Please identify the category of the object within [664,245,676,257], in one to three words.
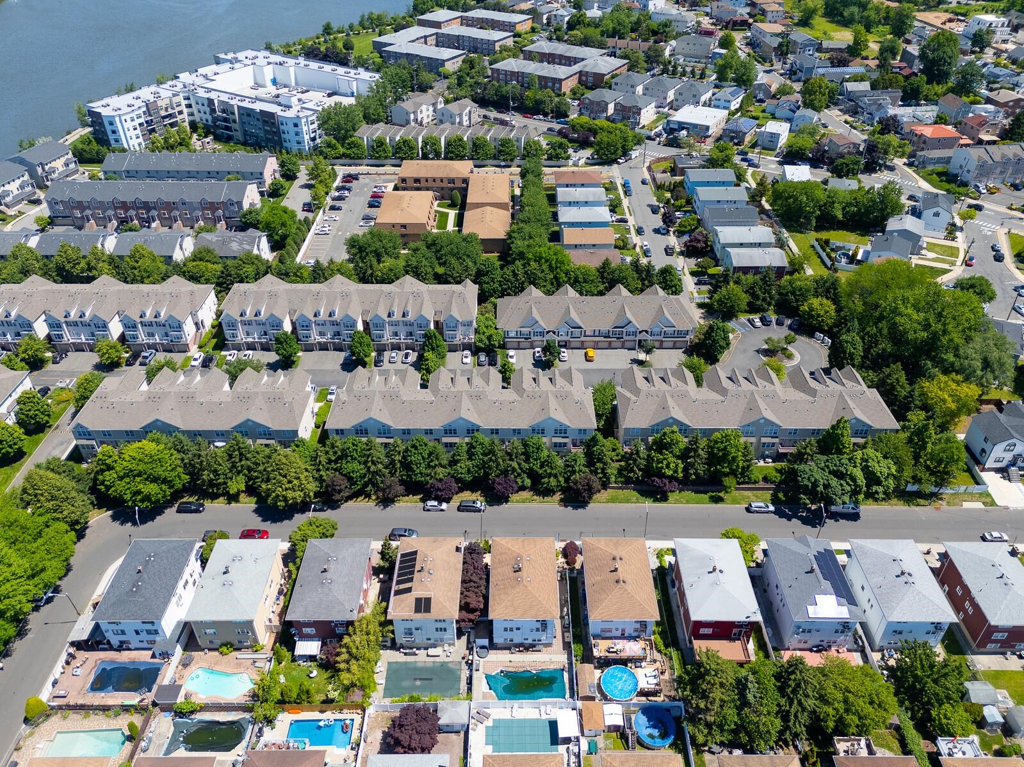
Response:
vehicle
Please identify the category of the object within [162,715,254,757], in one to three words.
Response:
swimming pool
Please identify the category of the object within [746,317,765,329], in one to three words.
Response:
vehicle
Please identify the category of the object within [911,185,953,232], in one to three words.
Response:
house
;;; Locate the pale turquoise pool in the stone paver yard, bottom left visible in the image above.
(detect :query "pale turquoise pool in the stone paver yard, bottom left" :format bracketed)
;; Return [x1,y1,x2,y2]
[37,726,129,762]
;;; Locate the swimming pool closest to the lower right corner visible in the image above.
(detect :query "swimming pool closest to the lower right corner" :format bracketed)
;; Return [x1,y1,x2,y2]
[630,705,681,753]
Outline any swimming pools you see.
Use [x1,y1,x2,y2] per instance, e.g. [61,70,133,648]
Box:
[37,726,129,762]
[162,715,254,757]
[482,668,571,699]
[182,664,255,702]
[83,659,167,696]
[483,715,563,757]
[630,705,681,753]
[283,717,357,750]
[598,663,641,707]
[381,660,463,700]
